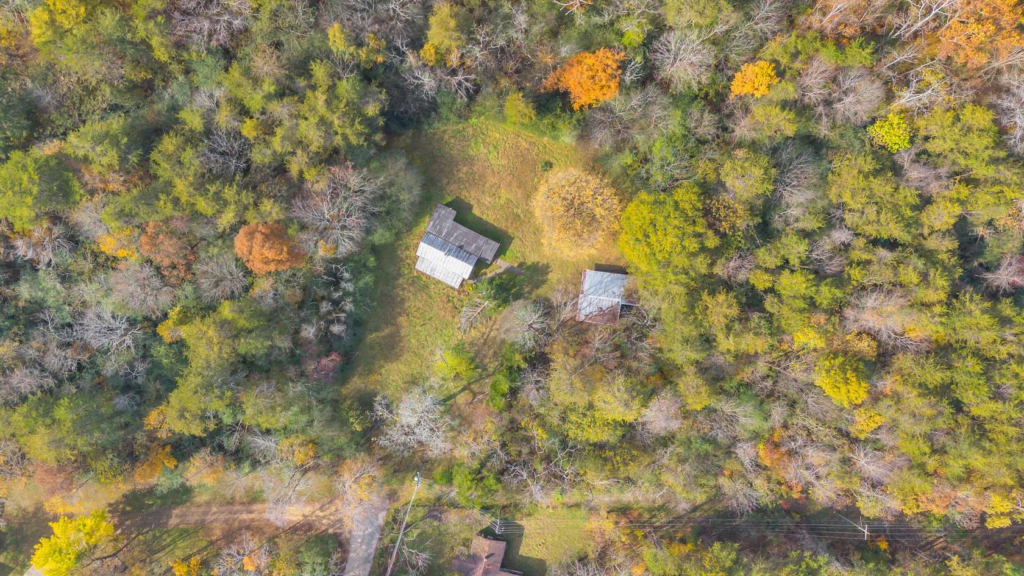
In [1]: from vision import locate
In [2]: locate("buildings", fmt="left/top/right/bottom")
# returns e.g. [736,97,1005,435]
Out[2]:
[452,532,523,576]
[416,204,504,291]
[576,270,640,326]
